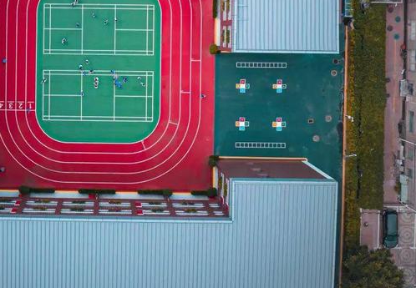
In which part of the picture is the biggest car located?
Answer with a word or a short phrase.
bottom right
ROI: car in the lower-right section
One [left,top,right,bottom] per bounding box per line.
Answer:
[383,209,403,250]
